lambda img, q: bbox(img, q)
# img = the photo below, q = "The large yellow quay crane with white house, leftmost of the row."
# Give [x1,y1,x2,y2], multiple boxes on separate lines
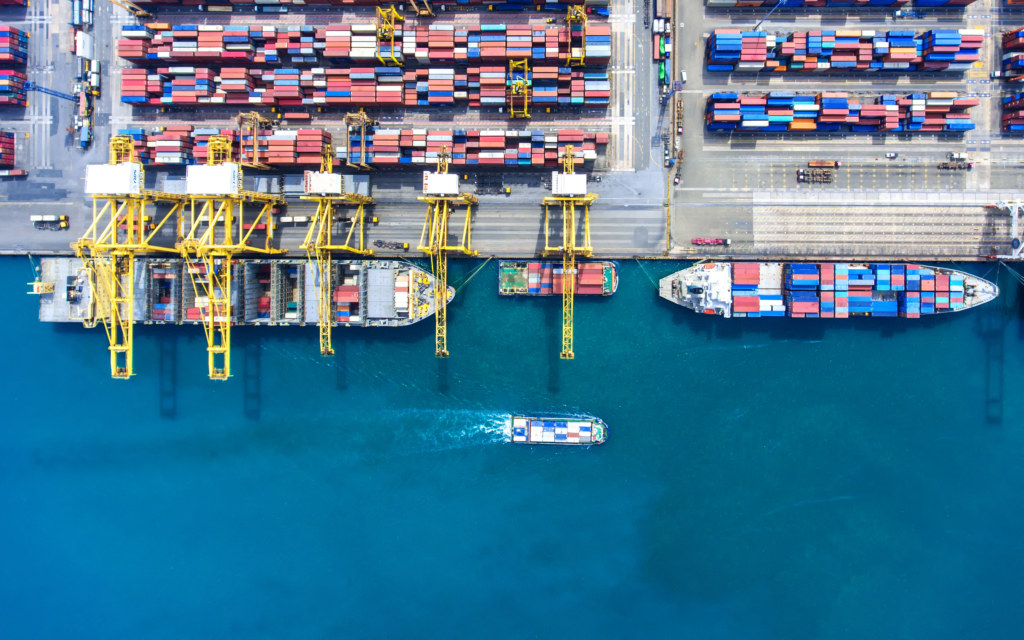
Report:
[74,134,196,380]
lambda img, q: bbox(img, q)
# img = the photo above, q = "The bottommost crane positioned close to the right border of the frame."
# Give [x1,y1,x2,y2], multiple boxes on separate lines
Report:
[980,197,1024,251]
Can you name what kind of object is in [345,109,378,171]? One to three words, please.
container crane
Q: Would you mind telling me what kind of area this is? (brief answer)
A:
port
